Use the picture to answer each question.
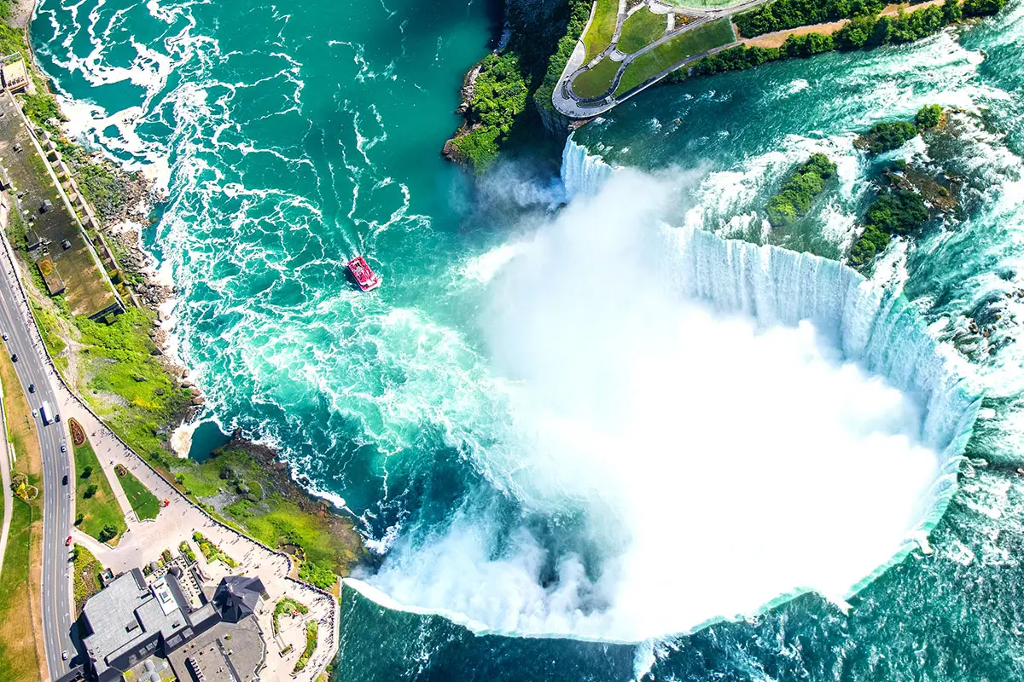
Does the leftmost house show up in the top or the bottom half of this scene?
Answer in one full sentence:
It is in the top half that the leftmost house appears.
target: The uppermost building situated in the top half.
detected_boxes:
[0,49,34,94]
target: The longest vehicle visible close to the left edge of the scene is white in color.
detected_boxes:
[41,405,53,424]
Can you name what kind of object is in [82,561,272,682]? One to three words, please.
building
